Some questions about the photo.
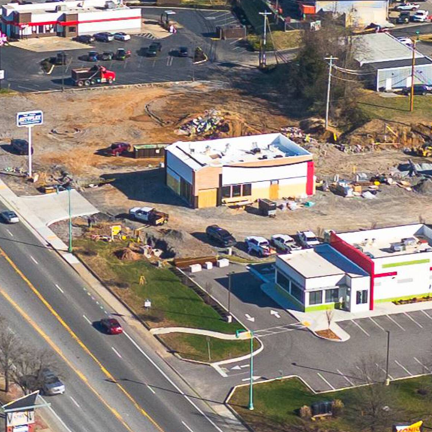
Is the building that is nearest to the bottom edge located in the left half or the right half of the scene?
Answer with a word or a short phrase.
right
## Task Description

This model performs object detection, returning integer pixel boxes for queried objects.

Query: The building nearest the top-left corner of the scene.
[2,0,140,40]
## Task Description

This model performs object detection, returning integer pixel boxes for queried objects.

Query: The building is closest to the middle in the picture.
[161,132,315,208]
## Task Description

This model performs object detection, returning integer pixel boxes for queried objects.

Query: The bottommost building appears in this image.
[273,224,432,311]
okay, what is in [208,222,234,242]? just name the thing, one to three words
car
